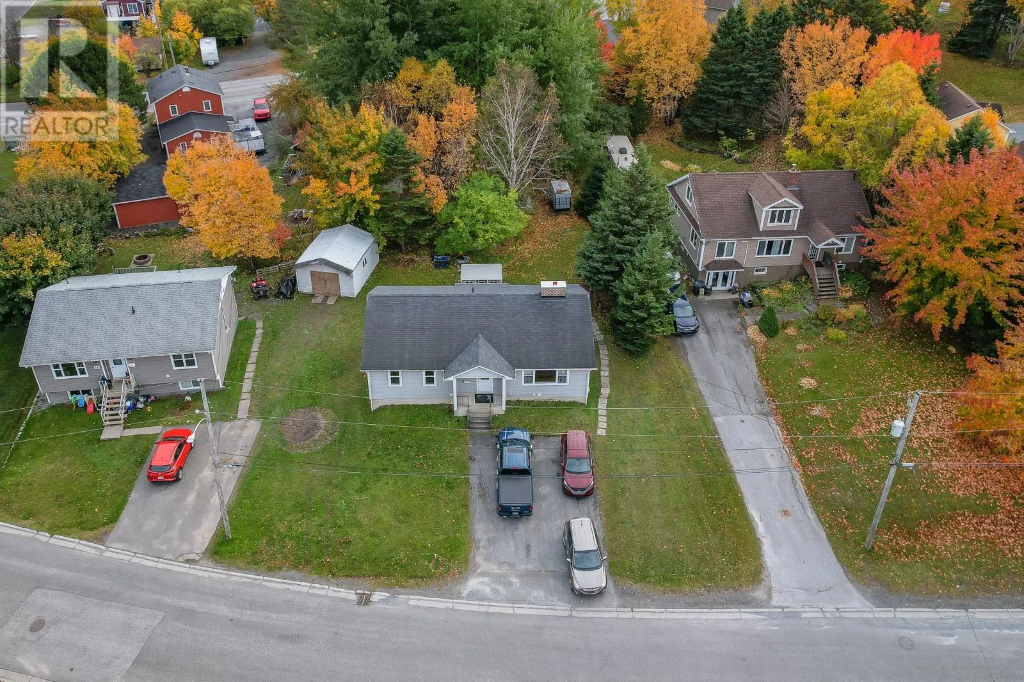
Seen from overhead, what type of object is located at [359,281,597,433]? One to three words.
house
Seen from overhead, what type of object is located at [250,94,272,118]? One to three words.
truck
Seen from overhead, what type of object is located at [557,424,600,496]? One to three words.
car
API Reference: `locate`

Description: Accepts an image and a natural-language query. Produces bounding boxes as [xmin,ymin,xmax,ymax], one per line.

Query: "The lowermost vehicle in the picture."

[562,513,608,598]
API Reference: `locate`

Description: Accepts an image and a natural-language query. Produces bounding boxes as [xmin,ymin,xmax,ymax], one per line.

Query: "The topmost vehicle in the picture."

[198,41,222,74]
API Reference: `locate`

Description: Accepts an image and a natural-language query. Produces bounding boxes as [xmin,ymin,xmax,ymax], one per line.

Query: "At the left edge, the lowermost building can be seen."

[16,266,243,425]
